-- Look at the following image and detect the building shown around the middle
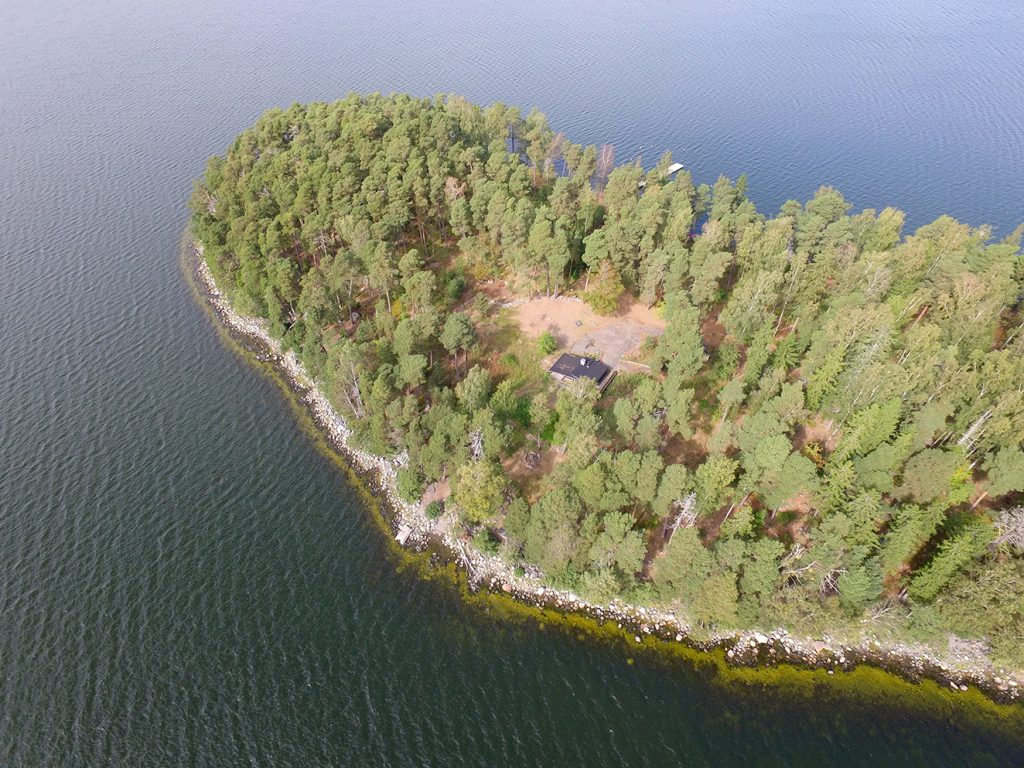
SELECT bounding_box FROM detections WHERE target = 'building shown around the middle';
[552,352,618,400]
